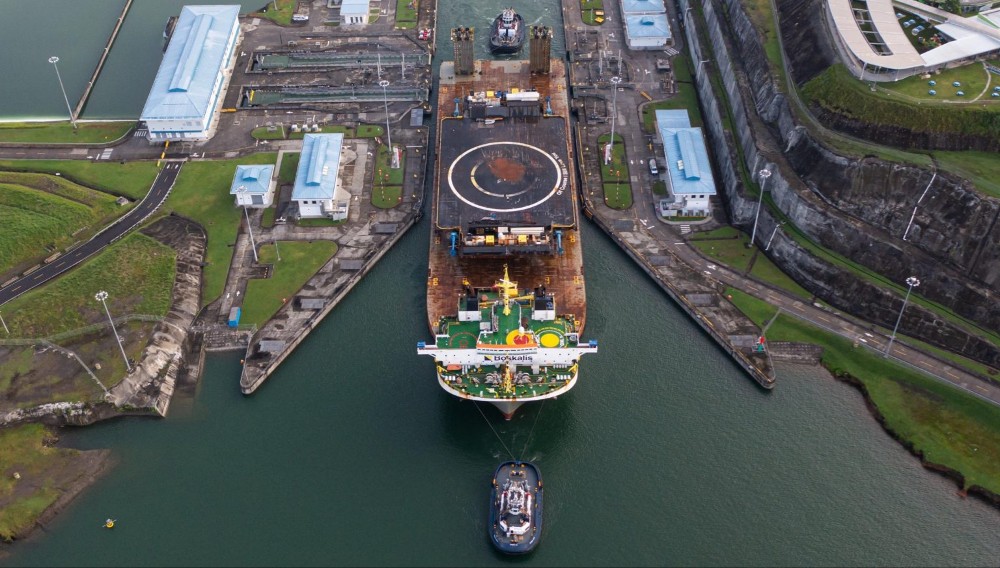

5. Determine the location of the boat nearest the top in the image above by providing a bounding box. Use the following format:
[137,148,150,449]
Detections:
[489,3,525,56]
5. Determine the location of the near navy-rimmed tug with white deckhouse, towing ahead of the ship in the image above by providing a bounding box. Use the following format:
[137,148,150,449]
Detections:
[485,458,545,557]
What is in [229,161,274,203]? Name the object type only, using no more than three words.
building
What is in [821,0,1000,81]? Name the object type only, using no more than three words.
building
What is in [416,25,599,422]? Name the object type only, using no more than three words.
ship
